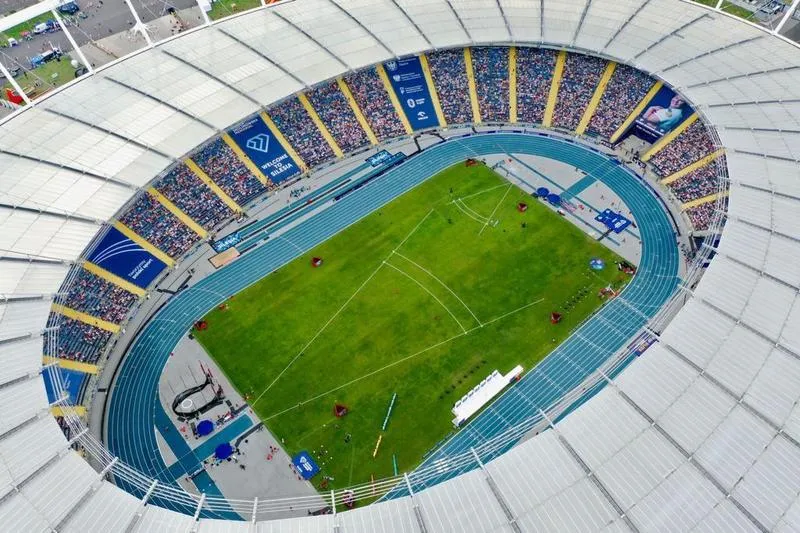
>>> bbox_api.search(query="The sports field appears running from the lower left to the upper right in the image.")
[153,153,642,519]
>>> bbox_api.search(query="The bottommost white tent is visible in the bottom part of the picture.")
[449,363,524,426]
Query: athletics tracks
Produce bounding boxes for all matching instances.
[106,135,680,533]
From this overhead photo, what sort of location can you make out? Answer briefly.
sports ground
